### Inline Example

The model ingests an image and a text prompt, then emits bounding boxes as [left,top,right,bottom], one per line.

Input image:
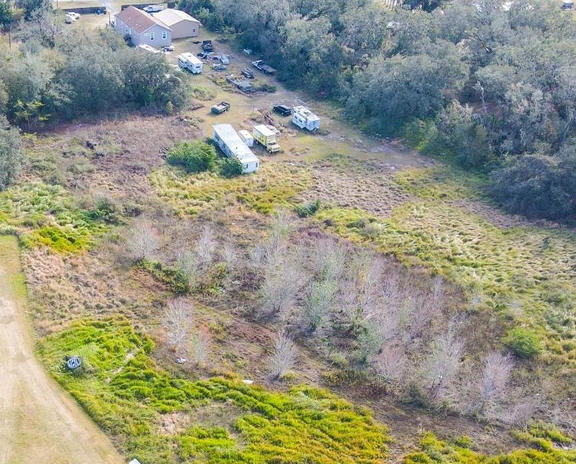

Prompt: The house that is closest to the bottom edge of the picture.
[212,125,263,171]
